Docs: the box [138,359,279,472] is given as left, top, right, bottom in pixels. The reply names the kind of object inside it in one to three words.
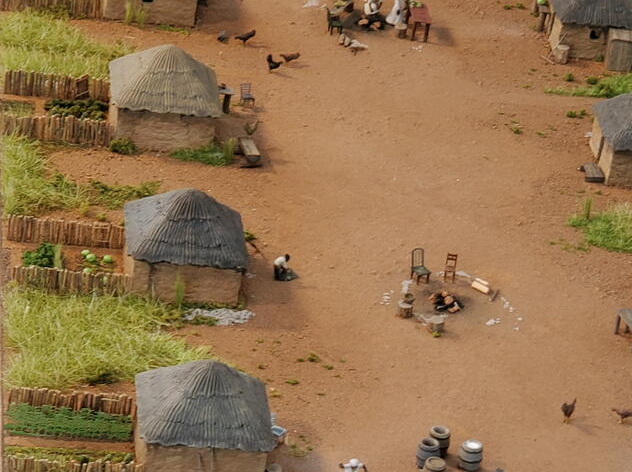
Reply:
shed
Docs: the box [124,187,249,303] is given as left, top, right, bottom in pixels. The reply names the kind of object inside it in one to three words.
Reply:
shed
